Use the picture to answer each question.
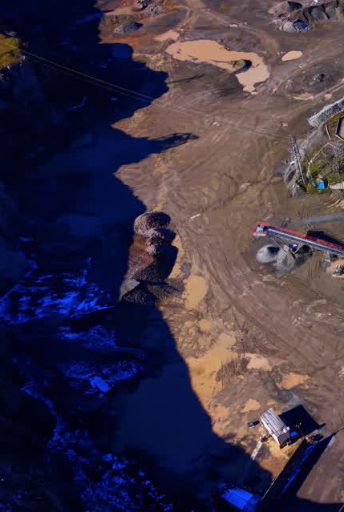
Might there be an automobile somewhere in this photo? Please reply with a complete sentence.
No, this view has no automobile in it.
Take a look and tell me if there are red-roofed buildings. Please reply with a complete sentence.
No, the picture doesn't show any red-roofed building.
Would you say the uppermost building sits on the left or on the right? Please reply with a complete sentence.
The uppermost building sits on the right side.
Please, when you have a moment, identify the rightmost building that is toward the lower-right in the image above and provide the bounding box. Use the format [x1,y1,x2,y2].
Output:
[260,408,297,449]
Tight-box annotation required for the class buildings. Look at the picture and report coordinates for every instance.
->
[219,480,262,512]
[260,408,297,449]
